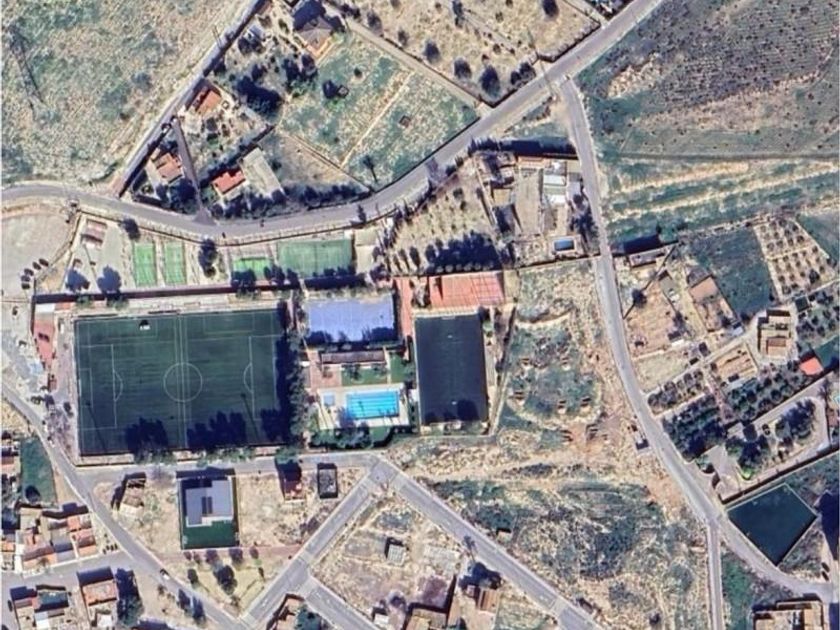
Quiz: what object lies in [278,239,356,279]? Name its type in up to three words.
tennis court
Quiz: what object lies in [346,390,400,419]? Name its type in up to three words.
swimming pool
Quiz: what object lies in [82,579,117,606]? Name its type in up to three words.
house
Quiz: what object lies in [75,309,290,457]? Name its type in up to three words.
soccer field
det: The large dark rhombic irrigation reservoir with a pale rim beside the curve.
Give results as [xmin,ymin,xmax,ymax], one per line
[726,484,818,562]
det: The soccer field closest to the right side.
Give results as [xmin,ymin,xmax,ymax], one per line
[416,314,488,425]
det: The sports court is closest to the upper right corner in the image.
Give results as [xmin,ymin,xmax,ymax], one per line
[430,272,505,308]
